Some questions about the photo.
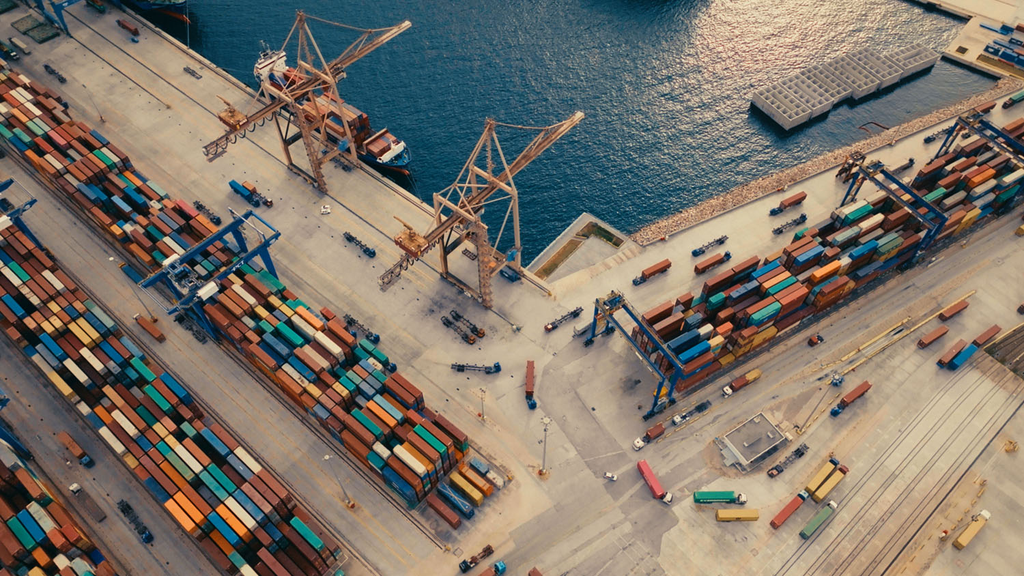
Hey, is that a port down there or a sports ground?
port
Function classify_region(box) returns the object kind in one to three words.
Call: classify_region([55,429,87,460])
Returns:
shipping container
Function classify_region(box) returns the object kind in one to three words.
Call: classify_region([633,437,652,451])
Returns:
vehicle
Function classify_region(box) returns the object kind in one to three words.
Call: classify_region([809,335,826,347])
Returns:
vehicle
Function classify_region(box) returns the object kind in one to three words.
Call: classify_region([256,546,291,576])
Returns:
shipping container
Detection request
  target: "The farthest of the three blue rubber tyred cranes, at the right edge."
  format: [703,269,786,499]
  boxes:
[930,111,1024,213]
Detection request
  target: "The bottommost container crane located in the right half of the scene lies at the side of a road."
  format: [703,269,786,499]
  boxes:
[585,288,688,418]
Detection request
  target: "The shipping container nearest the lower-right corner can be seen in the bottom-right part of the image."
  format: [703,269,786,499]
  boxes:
[953,514,989,549]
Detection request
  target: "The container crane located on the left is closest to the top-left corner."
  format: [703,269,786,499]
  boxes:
[35,0,87,37]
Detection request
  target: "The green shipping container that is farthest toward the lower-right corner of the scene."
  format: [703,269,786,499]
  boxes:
[800,505,835,540]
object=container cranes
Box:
[836,158,955,269]
[374,109,588,310]
[35,0,87,37]
[195,5,411,195]
[0,178,50,256]
[137,208,282,342]
[585,288,688,418]
[930,111,1024,213]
